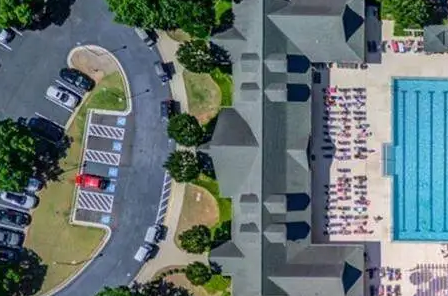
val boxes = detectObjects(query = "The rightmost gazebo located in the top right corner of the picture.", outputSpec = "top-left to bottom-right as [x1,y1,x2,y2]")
[424,26,448,56]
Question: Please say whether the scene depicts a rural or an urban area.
urban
